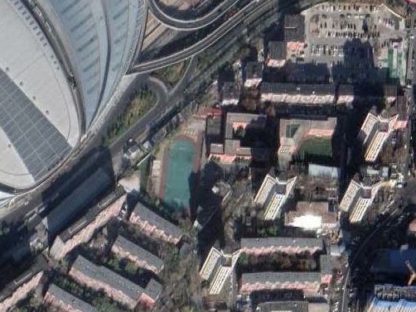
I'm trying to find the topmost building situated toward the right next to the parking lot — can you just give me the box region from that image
[281,15,304,47]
